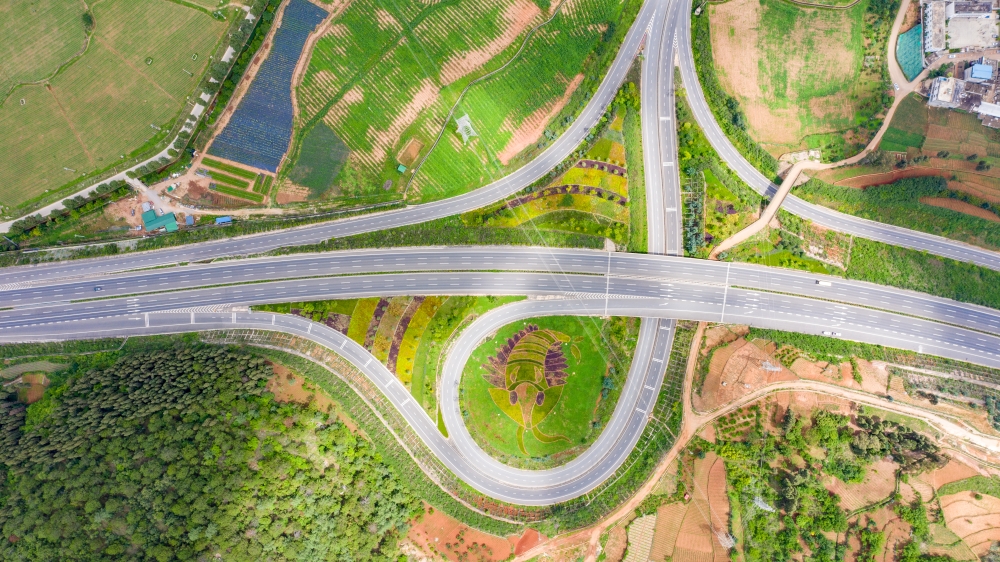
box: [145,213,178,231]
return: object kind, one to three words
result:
shed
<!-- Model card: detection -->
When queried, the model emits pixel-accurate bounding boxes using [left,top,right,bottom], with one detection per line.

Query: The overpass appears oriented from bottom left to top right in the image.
[748,162,811,236]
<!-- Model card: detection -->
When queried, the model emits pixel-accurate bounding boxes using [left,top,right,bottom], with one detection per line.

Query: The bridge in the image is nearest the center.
[605,250,729,322]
